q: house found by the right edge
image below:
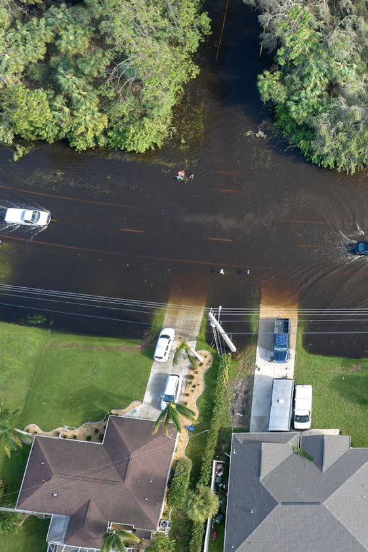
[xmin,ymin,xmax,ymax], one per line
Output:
[225,433,368,552]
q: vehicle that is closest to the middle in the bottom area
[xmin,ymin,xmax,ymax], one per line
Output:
[151,327,177,362]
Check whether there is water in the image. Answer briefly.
Yes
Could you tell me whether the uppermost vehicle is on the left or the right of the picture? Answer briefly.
left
